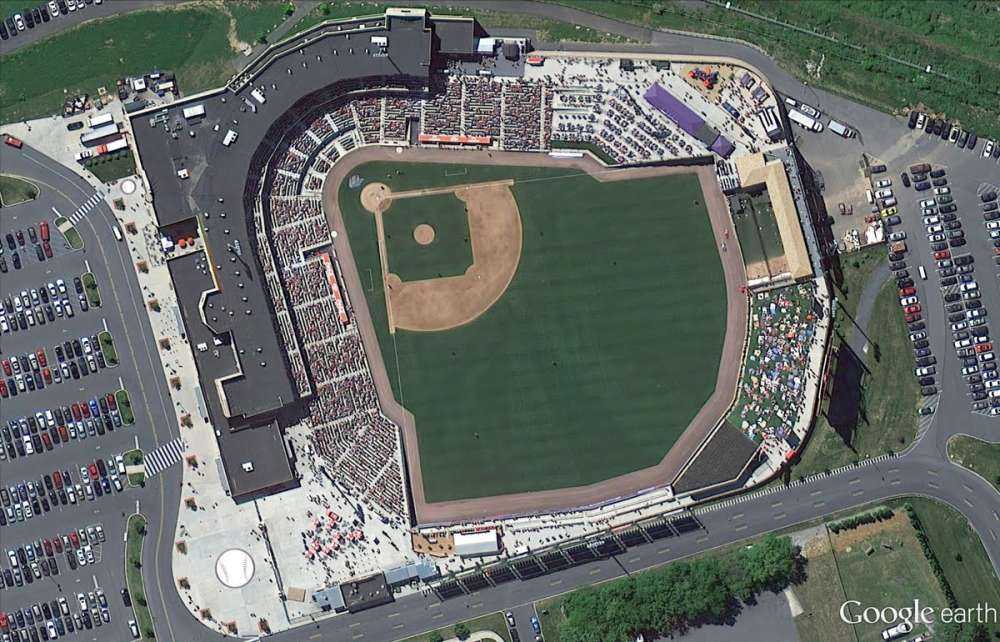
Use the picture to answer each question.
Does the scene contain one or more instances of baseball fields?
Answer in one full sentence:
Yes, there's a baseball field down there.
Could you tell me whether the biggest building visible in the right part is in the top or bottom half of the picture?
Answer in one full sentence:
You can find the biggest building visible in the right part in the top half.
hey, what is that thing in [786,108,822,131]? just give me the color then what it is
white truck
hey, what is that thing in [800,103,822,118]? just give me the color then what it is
white vehicle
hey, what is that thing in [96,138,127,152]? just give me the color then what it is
white vehicle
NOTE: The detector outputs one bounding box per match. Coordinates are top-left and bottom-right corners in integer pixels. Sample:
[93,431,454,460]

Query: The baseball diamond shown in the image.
[322,148,749,526]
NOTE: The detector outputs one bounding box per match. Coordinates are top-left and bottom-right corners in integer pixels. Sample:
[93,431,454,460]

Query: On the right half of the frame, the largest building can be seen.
[735,154,812,283]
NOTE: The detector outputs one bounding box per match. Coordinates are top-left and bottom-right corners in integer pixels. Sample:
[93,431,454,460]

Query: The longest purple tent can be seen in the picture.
[645,81,706,136]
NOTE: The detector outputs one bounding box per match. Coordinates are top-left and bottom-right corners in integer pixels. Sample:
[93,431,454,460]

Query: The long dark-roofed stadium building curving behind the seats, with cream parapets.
[127,12,475,497]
